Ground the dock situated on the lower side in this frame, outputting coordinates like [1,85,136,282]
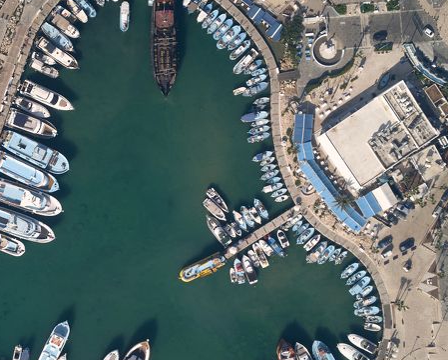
[223,208,302,260]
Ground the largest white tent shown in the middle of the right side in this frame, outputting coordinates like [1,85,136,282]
[373,182,398,211]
